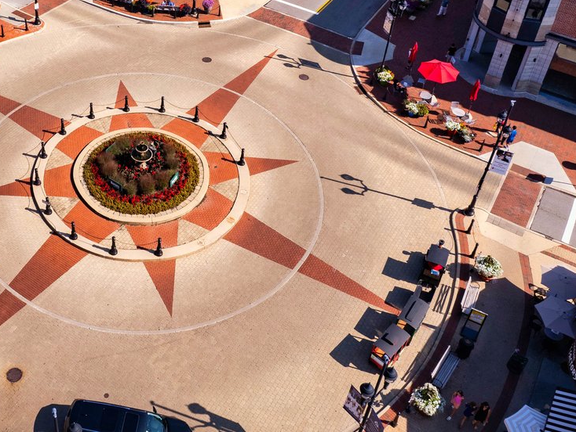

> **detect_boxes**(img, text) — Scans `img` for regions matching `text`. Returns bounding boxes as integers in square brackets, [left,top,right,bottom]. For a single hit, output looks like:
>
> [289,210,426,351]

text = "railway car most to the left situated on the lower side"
[366,324,410,378]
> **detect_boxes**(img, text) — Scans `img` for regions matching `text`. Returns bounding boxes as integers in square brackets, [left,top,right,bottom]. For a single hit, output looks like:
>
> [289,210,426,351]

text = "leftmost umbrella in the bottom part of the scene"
[489,398,545,432]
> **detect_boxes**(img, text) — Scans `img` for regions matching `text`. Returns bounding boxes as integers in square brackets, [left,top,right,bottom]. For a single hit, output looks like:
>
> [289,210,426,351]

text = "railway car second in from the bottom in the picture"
[396,296,429,349]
